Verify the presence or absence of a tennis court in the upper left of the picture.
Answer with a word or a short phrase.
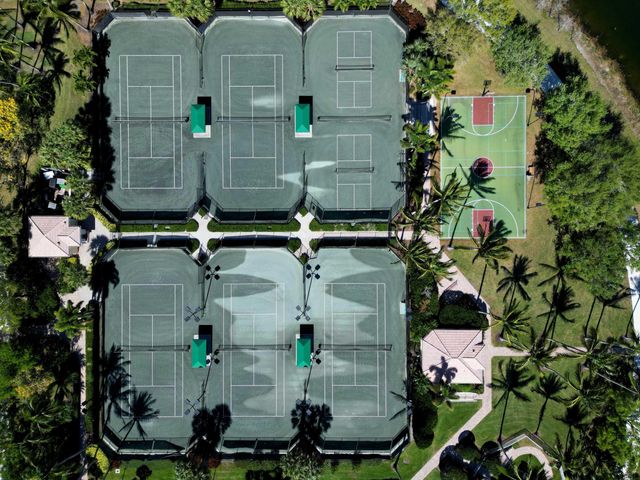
Yes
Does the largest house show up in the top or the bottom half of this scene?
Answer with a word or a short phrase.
bottom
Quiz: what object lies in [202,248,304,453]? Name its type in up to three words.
tennis court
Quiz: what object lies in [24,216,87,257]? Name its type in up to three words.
house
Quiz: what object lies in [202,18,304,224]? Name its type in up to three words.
tennis court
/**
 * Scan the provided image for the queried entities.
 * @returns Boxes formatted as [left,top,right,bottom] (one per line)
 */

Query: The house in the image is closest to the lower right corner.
[419,329,486,384]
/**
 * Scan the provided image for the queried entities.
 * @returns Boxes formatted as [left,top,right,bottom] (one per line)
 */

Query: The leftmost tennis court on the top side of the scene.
[101,17,202,224]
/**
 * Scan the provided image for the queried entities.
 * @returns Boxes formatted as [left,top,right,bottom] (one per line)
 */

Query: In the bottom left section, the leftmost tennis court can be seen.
[102,248,203,454]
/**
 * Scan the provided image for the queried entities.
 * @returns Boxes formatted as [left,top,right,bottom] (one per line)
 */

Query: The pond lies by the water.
[566,0,640,96]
